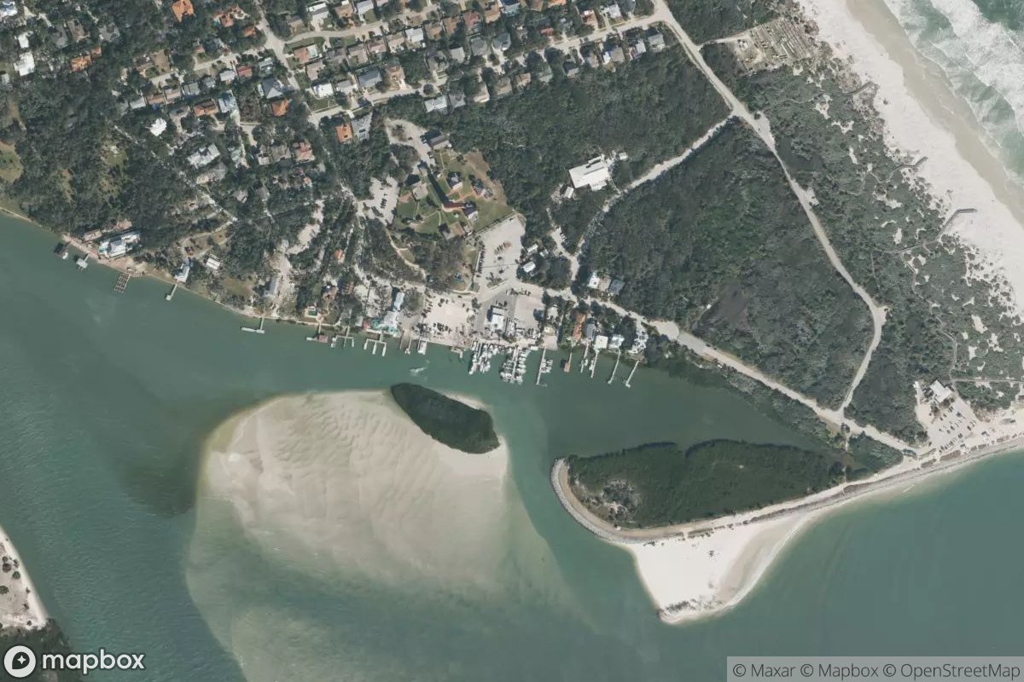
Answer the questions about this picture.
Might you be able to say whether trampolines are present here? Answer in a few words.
No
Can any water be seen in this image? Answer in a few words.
Yes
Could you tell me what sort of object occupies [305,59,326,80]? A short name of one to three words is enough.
house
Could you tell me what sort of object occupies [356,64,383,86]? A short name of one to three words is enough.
house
